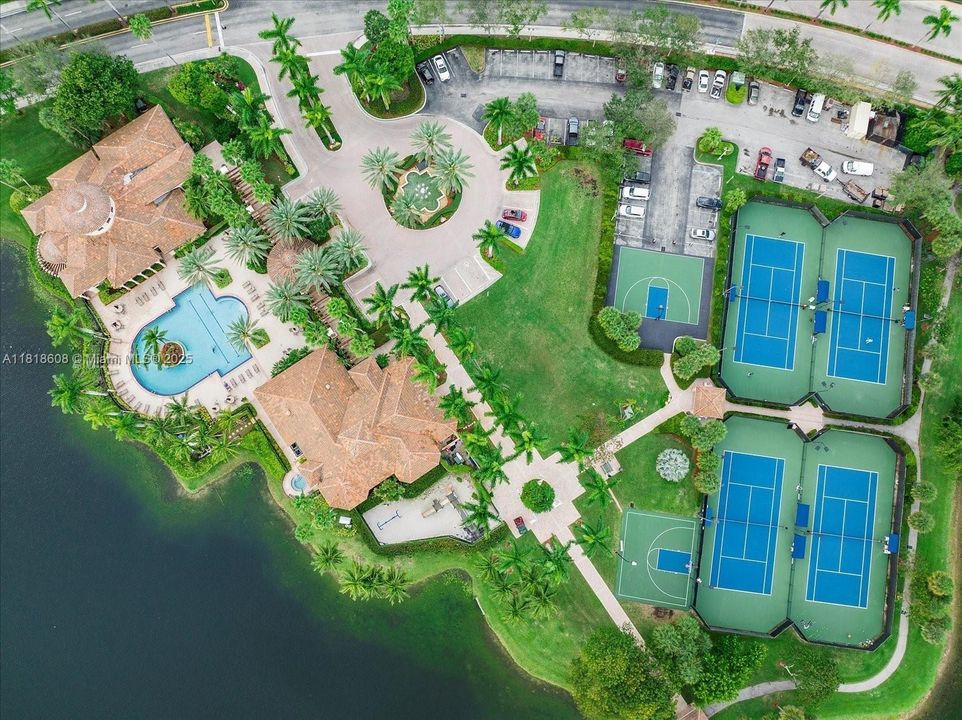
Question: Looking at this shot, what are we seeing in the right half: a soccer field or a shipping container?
shipping container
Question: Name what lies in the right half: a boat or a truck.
truck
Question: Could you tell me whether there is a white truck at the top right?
Yes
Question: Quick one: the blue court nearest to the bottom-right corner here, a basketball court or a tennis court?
tennis court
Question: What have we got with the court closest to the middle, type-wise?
basketball court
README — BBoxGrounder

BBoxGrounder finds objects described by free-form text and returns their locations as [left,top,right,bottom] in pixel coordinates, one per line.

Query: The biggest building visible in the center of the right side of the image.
[689,386,727,417]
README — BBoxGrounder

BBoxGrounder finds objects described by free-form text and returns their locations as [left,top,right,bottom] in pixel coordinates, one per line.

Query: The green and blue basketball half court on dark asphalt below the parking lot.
[605,244,715,353]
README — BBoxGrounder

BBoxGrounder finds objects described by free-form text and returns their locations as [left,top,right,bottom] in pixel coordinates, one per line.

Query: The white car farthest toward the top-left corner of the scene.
[434,54,450,83]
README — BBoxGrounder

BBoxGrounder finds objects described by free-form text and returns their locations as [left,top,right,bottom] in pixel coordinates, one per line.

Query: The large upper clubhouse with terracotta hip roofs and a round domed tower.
[20,103,209,298]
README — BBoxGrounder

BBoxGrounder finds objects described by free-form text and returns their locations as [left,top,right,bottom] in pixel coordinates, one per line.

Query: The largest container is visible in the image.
[843,101,872,145]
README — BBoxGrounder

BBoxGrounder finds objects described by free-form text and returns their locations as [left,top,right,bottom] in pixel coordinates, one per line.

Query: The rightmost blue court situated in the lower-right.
[806,464,882,609]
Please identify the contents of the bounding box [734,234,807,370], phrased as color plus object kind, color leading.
blue tennis court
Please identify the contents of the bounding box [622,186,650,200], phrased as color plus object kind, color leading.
white car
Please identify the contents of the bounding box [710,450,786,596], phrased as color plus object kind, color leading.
blue tennis court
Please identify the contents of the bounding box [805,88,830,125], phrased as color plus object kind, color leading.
white vehicle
